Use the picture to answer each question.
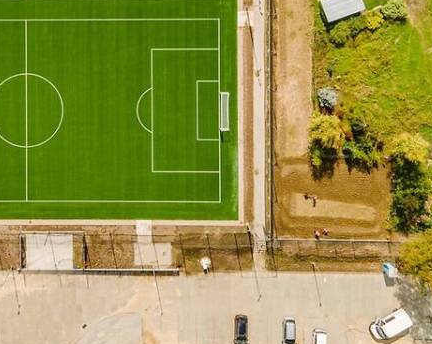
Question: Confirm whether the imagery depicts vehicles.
Yes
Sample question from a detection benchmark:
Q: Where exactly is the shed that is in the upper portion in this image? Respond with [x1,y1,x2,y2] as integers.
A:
[318,0,365,23]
